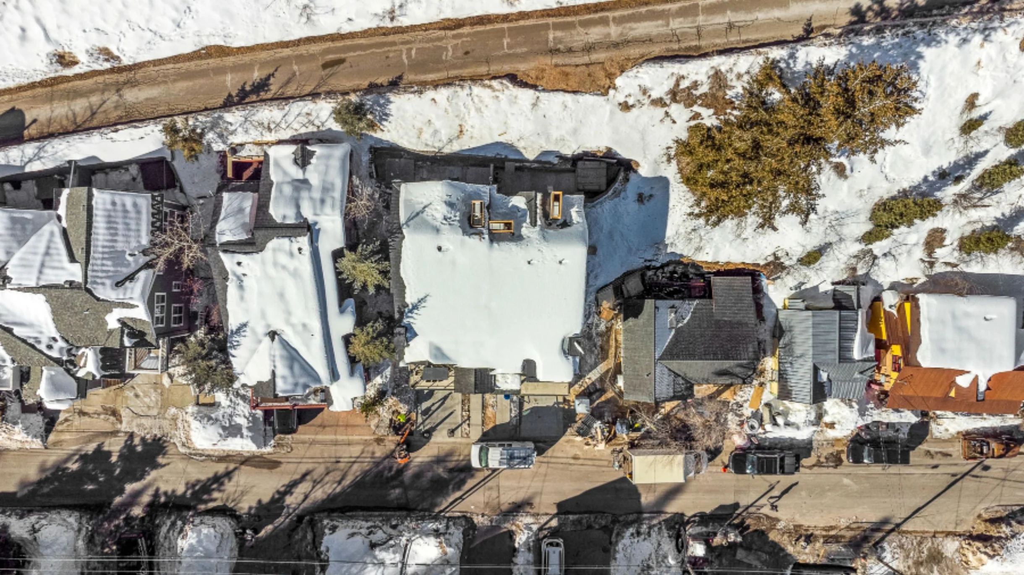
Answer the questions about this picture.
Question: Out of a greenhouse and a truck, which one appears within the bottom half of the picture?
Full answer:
The feature located within the bottom half of the picture is a truck.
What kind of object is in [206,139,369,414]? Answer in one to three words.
house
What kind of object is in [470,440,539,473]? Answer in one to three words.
van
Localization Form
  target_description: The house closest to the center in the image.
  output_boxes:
[390,180,589,396]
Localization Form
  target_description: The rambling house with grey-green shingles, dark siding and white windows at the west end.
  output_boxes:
[0,162,193,413]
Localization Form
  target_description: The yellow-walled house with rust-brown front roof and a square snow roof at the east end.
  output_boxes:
[865,288,1024,416]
